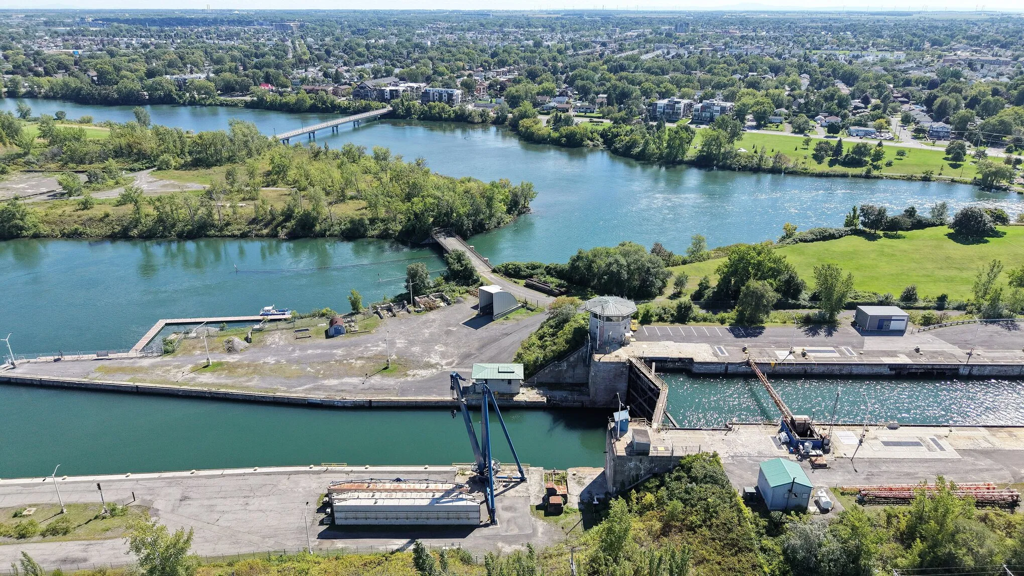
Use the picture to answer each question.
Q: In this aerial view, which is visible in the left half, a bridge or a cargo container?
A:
bridge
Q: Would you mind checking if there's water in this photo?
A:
Yes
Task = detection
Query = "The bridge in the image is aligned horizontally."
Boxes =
[266,105,401,142]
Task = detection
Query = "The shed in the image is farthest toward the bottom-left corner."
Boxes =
[326,311,345,336]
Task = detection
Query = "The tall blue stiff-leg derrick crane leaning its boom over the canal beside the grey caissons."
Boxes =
[448,371,528,529]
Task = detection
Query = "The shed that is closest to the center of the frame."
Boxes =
[478,282,524,320]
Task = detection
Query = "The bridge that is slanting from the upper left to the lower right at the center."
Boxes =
[423,228,493,277]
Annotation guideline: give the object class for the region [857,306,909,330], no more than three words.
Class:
building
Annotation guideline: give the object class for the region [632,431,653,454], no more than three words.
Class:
shed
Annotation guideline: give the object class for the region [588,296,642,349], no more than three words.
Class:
building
